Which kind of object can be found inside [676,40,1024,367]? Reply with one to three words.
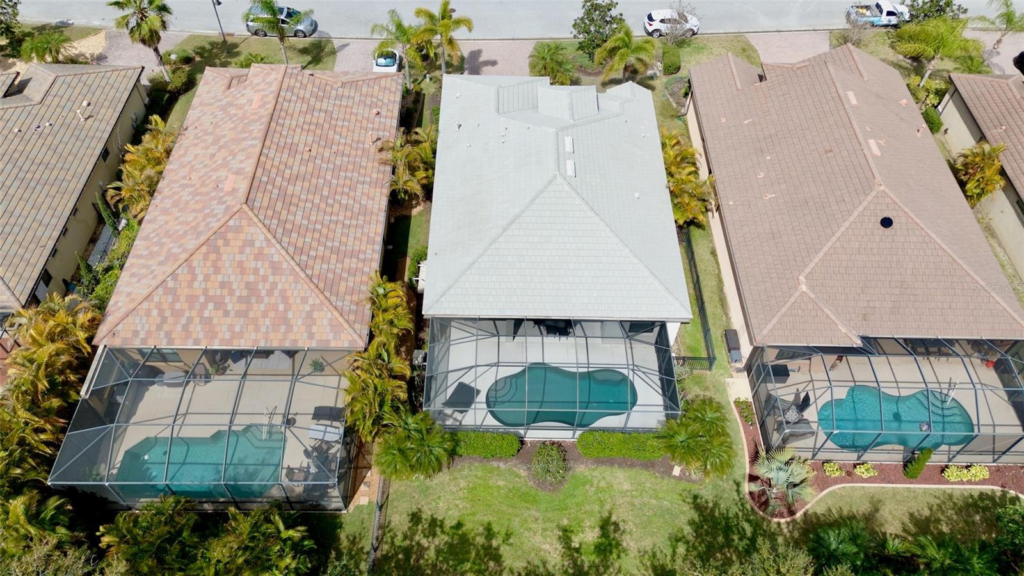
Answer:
house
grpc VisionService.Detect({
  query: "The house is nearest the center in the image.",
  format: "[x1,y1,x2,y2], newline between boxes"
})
[420,73,693,345]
